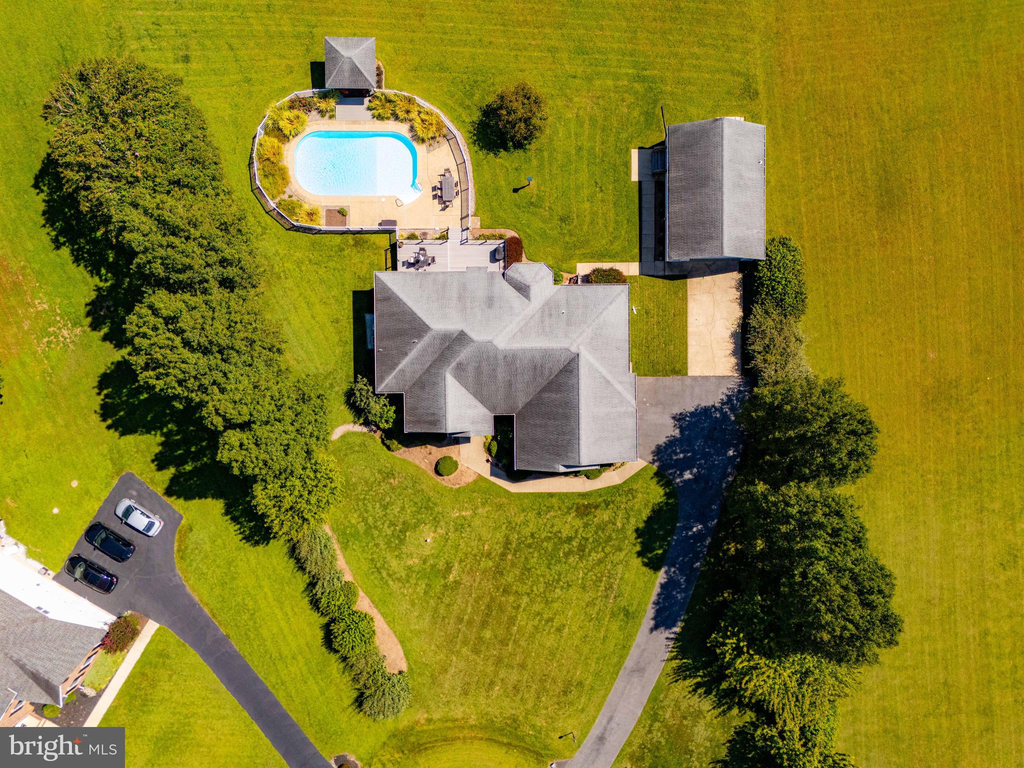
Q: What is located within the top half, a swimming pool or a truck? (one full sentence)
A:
The one visible within the top half is a swimming pool.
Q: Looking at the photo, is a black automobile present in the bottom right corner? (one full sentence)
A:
No, the scene shows no black automobile in the bottom right corner.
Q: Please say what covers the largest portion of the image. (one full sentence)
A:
Most of the picture is covered by grass.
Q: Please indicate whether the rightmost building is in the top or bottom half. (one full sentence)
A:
The rightmost building sits in the top half of the picture.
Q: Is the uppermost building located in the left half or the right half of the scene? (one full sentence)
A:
It is on the left.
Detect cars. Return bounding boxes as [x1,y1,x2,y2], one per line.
[114,498,166,539]
[63,552,121,597]
[82,521,138,565]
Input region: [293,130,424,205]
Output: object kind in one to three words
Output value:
swimming pool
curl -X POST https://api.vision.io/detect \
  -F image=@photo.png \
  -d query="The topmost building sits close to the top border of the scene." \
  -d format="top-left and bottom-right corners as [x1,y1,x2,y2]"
[324,36,379,97]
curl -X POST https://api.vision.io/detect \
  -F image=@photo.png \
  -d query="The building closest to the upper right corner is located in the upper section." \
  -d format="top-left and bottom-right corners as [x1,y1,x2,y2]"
[663,118,766,264]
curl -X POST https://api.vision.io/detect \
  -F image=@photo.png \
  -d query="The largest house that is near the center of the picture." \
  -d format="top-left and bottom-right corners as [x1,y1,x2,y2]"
[363,262,639,472]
